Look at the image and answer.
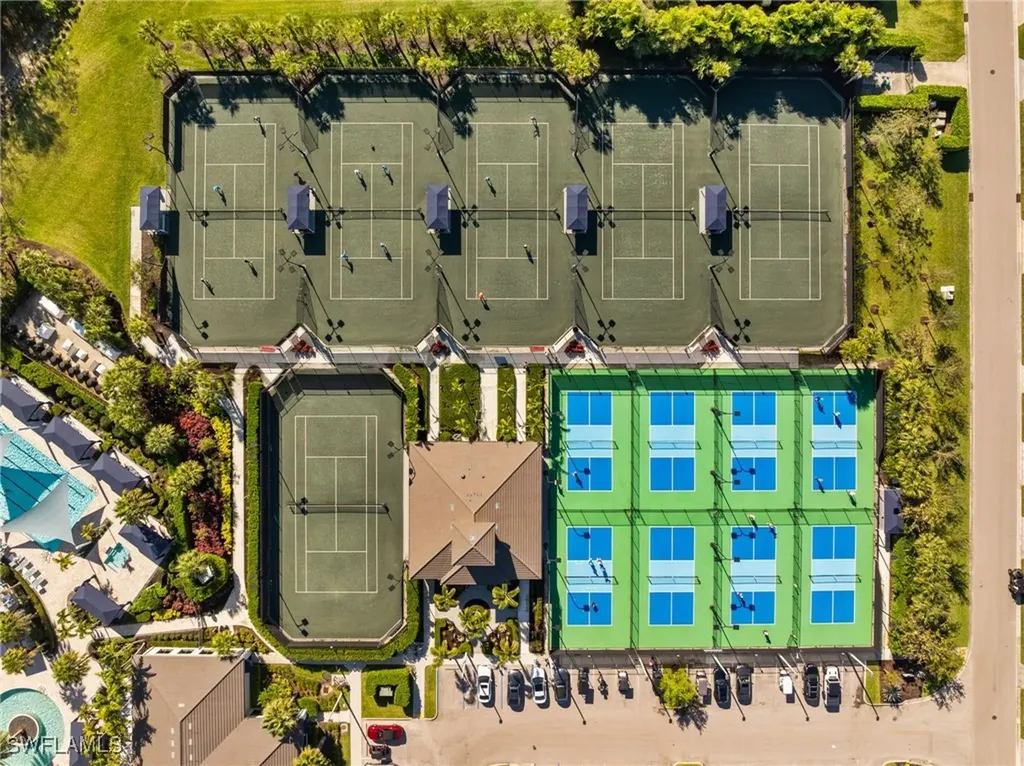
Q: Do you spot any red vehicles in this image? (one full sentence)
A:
Yes, this view includes a red vehicle.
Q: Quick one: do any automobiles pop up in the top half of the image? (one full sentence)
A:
No, looking in the top half of the image, there is no automobile.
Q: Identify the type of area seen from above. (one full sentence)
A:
This image shows a sports ground.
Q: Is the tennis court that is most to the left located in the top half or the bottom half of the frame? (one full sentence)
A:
It is in the top half that the tennis court that is most to the left appears.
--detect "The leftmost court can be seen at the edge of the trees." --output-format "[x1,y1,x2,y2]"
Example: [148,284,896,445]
[172,77,304,346]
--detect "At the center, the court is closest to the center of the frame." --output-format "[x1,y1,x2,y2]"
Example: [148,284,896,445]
[552,371,633,510]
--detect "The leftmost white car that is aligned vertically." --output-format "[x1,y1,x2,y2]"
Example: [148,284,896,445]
[476,665,493,703]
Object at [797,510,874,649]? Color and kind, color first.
green sports court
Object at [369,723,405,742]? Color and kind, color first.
red car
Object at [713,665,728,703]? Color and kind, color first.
black car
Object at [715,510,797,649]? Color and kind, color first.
green sports court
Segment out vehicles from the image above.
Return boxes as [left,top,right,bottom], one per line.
[650,665,663,688]
[802,663,822,701]
[617,670,628,693]
[554,666,571,704]
[821,665,842,710]
[507,670,525,708]
[476,665,493,703]
[371,743,391,760]
[735,663,754,703]
[531,665,548,703]
[578,668,589,691]
[713,665,728,703]
[369,723,405,742]
[695,669,708,692]
[778,669,792,692]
